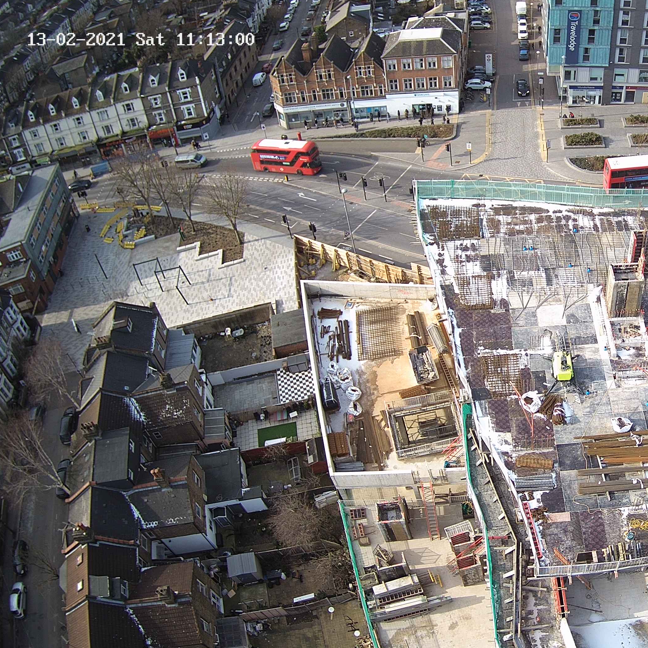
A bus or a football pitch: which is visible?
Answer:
bus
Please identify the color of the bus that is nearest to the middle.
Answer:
red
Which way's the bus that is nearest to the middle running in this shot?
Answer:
from left to right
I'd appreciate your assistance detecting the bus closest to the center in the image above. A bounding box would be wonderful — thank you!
[251,140,323,174]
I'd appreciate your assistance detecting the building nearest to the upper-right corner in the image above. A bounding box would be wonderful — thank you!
[529,0,648,107]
